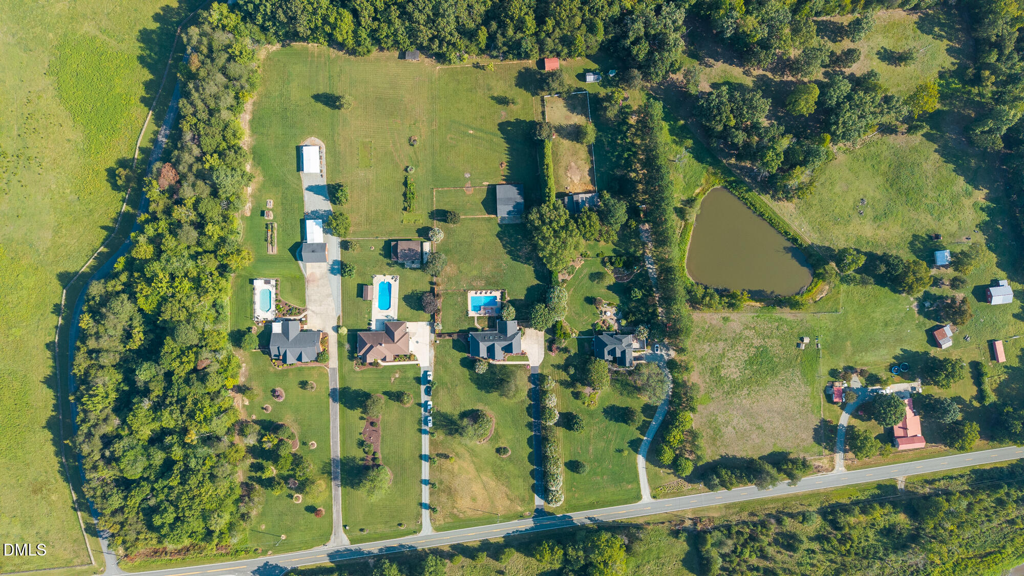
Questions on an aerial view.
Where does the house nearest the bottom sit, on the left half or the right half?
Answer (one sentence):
You can find the house nearest the bottom on the right side of the picture.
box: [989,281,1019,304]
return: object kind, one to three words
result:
barn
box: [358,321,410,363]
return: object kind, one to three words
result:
house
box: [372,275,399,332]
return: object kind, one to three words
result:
swimming pool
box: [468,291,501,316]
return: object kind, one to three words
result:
swimming pool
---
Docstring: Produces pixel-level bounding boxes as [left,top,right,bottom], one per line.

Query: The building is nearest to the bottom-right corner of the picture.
[894,399,929,453]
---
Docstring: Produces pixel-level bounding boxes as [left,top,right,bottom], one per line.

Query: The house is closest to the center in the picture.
[470,321,521,360]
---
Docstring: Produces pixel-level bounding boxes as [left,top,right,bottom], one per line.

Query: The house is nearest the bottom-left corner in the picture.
[269,321,323,364]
